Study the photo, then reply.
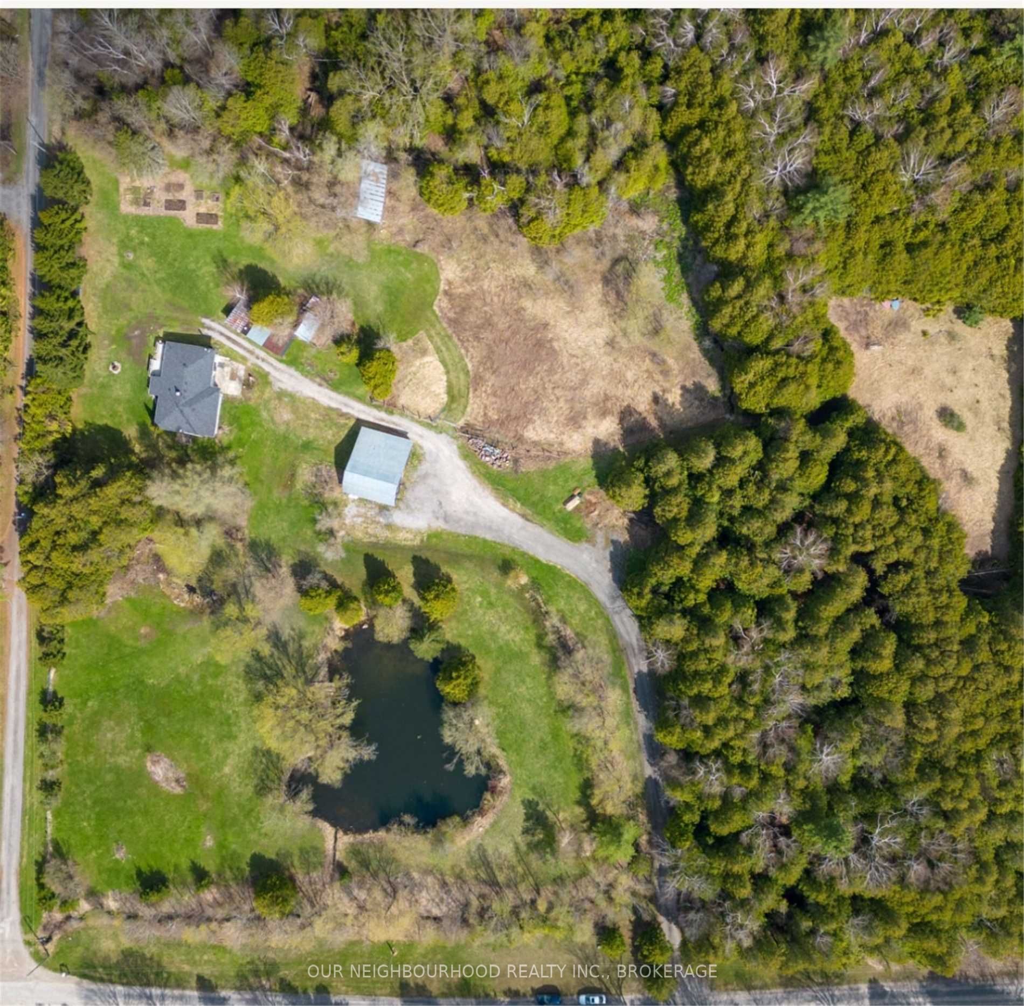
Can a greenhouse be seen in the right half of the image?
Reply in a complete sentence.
No, in the right half of the image there is no greenhouse.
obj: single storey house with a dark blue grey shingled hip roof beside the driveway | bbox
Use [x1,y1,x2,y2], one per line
[149,341,223,438]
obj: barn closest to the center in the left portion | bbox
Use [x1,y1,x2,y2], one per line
[342,426,413,506]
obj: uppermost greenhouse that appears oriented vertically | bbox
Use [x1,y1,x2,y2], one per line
[358,162,388,225]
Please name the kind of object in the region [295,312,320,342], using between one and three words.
shed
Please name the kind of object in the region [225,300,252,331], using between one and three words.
shed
